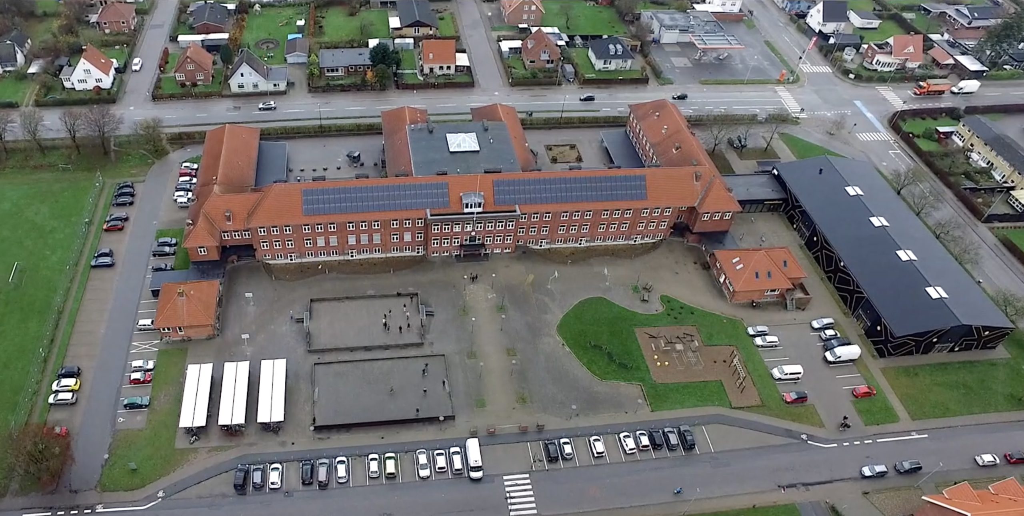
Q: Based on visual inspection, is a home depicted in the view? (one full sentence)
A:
Yes, this view includes a home.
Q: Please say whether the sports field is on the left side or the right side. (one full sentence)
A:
The sports field appears in the left half of the scene.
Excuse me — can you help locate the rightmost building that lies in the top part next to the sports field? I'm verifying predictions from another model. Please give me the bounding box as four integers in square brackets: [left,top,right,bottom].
[183,99,743,266]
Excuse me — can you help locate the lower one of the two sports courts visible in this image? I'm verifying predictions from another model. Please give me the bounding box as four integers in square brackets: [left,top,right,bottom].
[313,353,456,431]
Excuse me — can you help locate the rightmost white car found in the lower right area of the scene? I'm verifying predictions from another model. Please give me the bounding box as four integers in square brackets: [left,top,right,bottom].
[973,452,999,468]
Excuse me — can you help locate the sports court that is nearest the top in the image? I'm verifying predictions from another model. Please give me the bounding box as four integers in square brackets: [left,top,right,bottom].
[299,290,430,352]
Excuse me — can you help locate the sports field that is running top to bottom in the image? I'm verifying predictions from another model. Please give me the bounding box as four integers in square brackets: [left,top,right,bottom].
[0,171,98,492]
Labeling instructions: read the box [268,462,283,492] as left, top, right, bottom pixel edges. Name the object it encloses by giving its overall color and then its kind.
white car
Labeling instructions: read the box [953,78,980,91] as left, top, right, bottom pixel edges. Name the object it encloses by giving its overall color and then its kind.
white vehicle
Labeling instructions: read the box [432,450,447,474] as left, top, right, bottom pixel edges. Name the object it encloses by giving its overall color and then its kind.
white car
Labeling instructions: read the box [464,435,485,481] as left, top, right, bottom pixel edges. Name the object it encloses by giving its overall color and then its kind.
white vehicle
